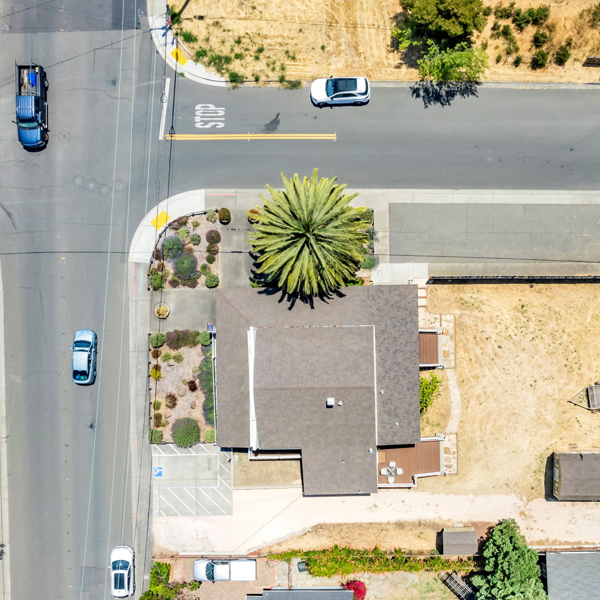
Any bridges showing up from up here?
No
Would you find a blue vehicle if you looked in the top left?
Yes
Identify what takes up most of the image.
paved ground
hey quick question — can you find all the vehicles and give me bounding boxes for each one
[69,329,99,385]
[195,558,257,586]
[310,74,370,106]
[106,542,136,599]
[16,62,50,147]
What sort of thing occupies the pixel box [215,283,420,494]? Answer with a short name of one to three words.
building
